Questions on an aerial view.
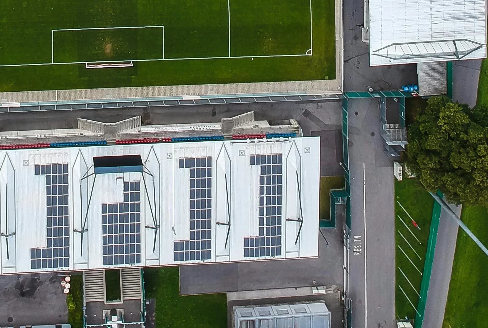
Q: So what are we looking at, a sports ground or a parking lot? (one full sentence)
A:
It's a sports ground.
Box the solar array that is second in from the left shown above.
[102,181,141,266]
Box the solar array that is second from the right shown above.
[174,156,212,262]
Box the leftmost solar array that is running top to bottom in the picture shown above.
[30,163,70,269]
